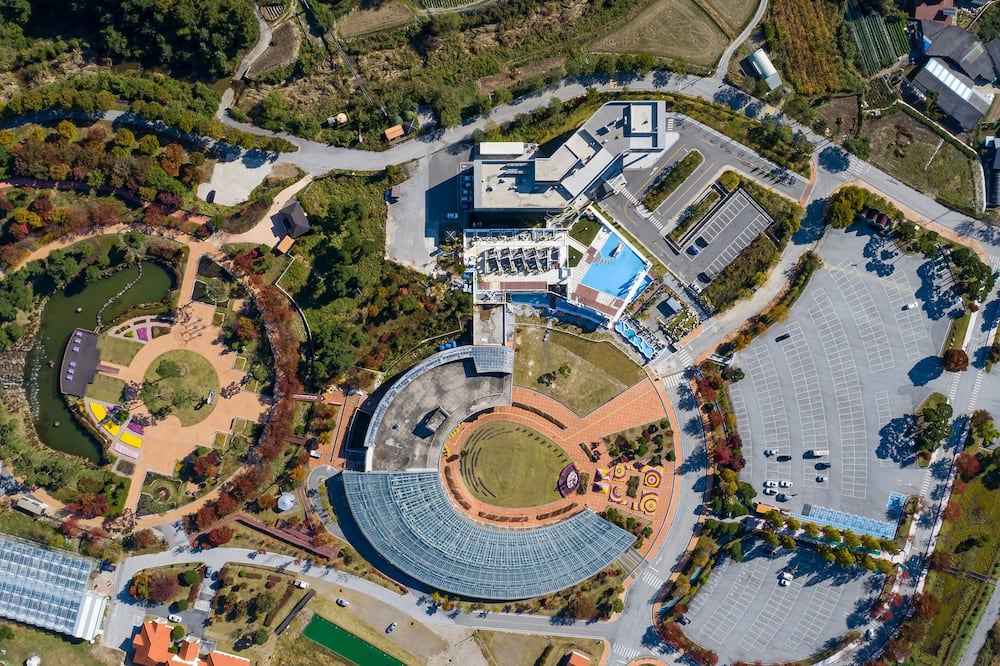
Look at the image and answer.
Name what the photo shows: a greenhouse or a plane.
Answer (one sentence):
The image shows a greenhouse.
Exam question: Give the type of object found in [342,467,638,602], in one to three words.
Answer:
greenhouse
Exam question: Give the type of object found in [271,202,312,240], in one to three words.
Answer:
shed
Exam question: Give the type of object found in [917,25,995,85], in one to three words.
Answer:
barn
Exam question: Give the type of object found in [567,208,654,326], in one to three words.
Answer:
swimming pool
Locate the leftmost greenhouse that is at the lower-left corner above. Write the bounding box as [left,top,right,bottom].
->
[0,533,95,637]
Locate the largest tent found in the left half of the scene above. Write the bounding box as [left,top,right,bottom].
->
[278,490,299,510]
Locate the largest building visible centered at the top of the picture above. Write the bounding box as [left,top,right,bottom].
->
[474,101,666,215]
